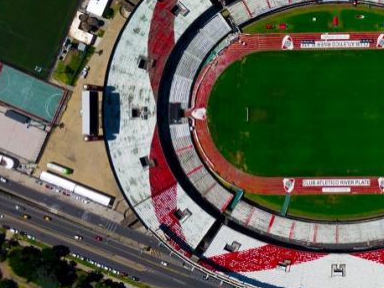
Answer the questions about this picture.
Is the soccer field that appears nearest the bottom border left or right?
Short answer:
right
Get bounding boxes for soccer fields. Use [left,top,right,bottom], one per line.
[0,0,81,79]
[207,48,384,177]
